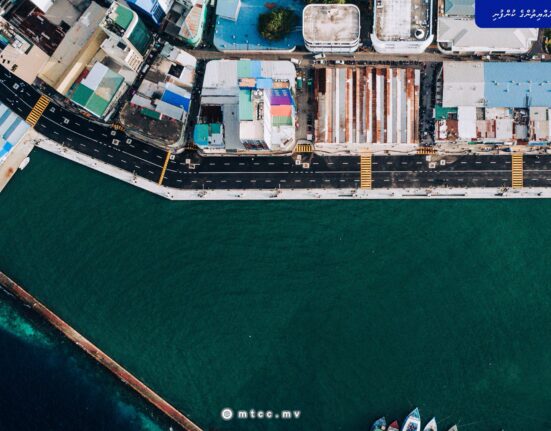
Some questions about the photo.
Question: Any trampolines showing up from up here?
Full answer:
No, this view has no trampoline in it.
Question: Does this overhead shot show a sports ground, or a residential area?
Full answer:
This looks like a residential area.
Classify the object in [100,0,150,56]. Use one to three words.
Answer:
building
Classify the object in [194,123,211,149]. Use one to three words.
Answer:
house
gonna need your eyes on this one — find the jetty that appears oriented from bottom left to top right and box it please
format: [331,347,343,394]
[0,133,38,197]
